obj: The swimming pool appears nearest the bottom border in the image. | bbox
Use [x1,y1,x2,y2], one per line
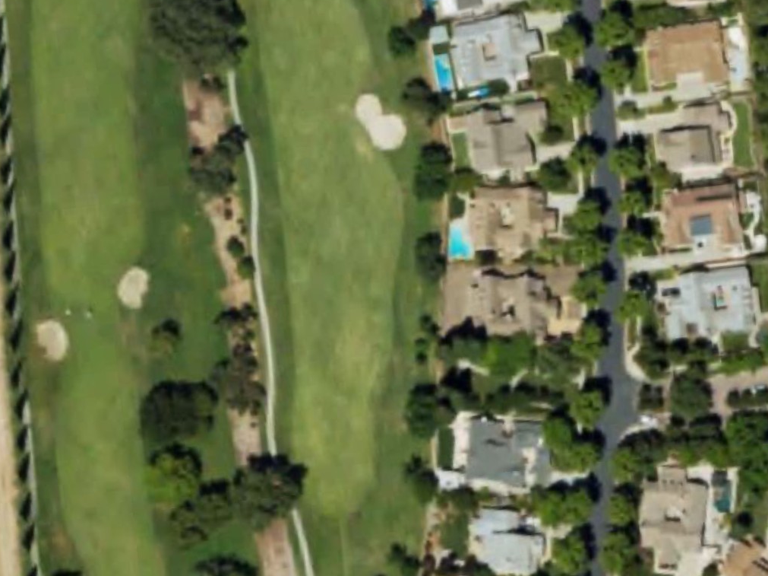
[715,470,732,512]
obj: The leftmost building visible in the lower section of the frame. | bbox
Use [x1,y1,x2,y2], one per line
[439,470,464,489]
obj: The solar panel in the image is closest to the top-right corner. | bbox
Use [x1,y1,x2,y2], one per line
[692,216,713,235]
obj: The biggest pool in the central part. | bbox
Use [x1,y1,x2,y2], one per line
[450,224,472,259]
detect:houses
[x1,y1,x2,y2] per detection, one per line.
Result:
[641,462,709,572]
[465,418,552,487]
[664,182,741,251]
[658,101,735,170]
[643,19,732,87]
[442,0,485,20]
[471,506,544,576]
[465,102,547,182]
[466,189,559,259]
[448,14,545,88]
[661,265,755,337]
[466,276,558,343]
[726,540,768,576]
